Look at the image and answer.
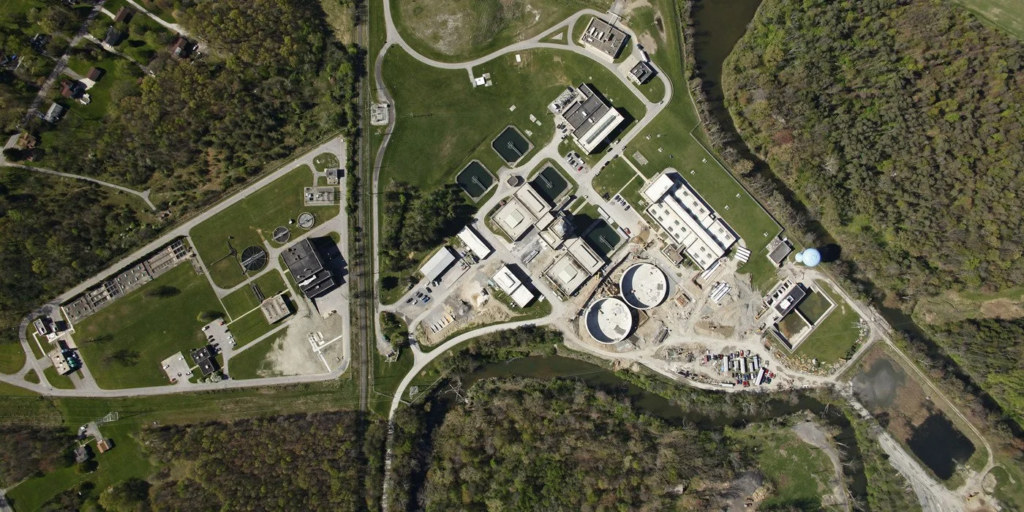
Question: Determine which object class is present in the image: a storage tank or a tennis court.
storage tank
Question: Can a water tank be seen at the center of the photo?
Yes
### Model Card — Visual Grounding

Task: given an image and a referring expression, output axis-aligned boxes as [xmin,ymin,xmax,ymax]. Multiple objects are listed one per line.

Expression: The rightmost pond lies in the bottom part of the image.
[909,413,972,478]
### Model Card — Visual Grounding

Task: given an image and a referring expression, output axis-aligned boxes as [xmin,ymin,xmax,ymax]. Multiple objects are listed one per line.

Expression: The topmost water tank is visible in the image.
[491,125,534,167]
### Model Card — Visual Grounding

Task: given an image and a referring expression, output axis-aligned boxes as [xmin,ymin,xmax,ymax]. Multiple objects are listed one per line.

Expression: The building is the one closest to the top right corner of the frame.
[766,238,791,268]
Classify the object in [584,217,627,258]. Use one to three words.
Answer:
water tank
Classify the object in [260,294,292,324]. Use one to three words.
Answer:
building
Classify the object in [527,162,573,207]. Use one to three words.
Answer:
water tank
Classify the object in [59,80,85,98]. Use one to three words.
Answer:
house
